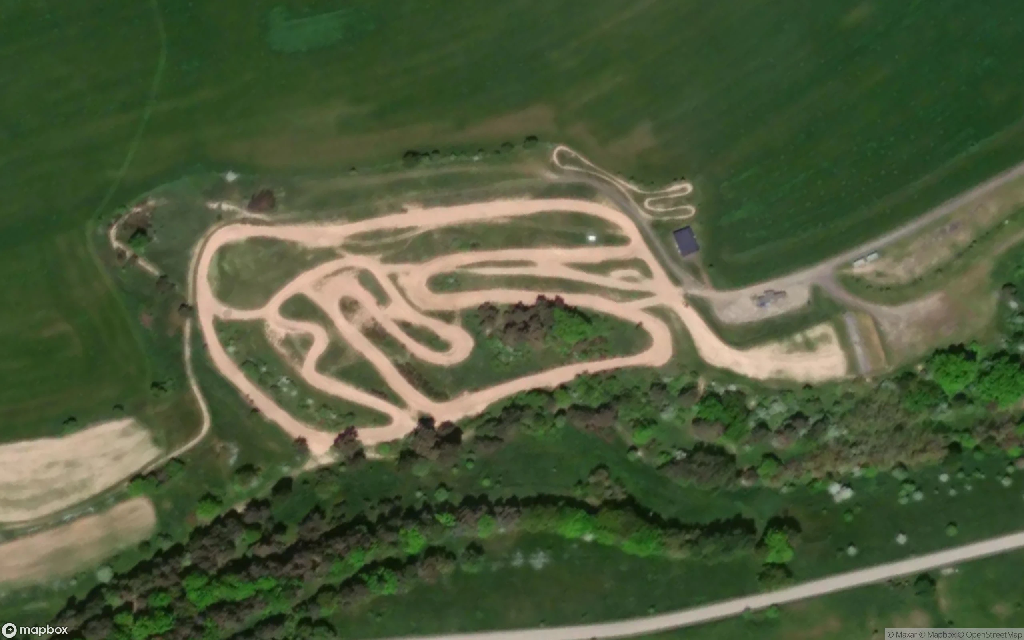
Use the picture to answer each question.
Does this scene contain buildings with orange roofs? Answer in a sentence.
No, no building with an orange roof is visible in the view.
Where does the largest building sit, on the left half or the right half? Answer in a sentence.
The largest building is on the right side of the image.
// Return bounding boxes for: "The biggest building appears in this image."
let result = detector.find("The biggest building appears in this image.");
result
[673,226,699,257]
